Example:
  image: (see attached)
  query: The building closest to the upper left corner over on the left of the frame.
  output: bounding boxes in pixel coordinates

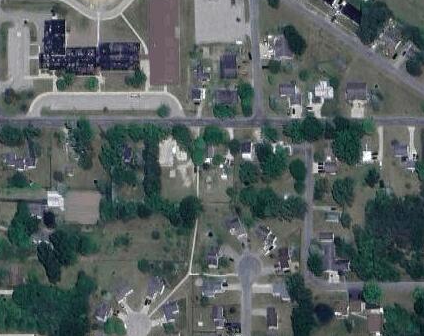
[39,20,142,76]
